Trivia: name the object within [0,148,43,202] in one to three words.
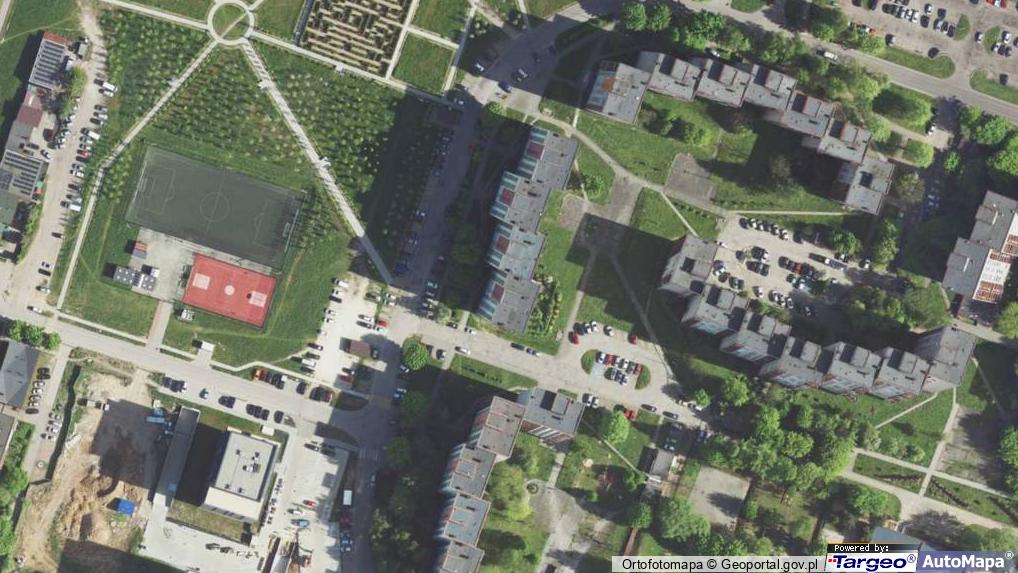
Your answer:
building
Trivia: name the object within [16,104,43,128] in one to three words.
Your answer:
building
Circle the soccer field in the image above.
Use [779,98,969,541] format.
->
[126,146,306,270]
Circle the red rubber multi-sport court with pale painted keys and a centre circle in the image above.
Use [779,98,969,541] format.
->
[181,253,280,327]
